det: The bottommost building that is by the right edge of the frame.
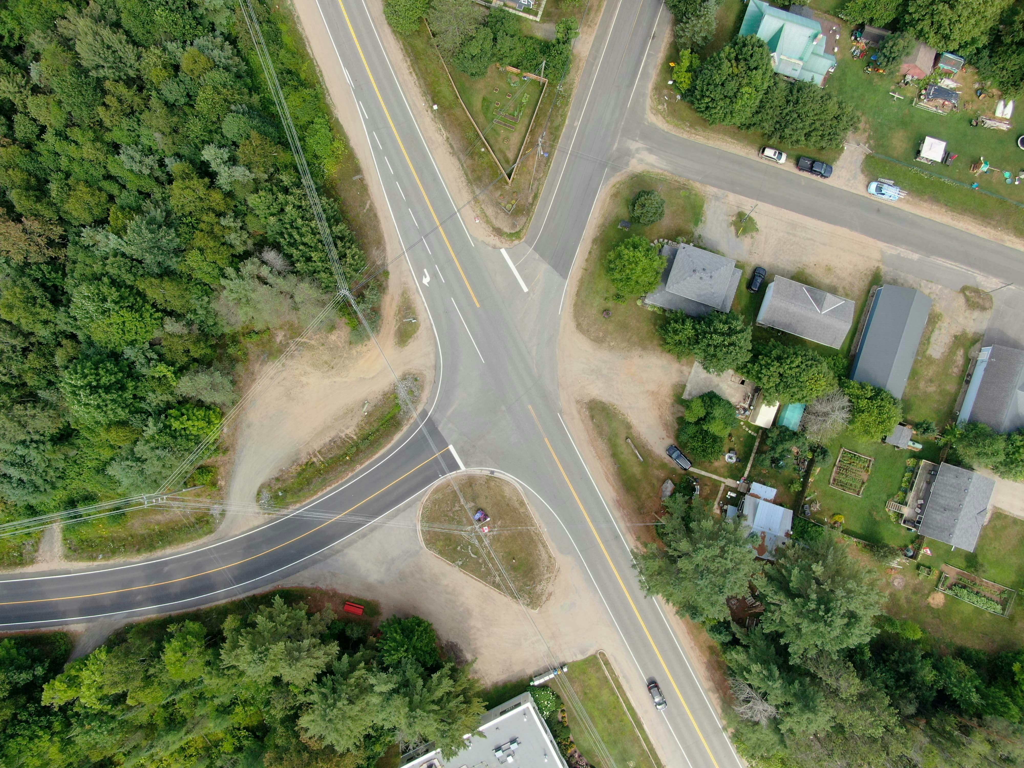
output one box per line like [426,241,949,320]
[885,460,996,553]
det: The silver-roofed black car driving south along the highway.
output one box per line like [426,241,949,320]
[645,676,669,713]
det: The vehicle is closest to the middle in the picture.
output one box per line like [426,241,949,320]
[666,442,695,474]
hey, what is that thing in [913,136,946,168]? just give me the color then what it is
white tent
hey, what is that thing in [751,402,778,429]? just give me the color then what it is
white camper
